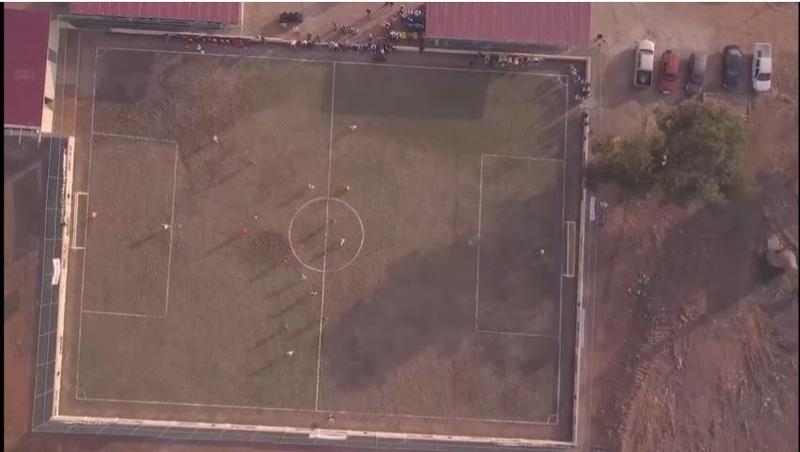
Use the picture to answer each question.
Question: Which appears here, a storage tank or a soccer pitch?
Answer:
soccer pitch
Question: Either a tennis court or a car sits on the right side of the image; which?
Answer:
car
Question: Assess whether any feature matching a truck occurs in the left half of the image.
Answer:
No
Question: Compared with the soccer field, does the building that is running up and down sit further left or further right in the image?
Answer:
left of it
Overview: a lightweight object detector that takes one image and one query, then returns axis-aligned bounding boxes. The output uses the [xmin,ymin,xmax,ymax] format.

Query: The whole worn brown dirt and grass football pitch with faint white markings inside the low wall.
[57,33,585,440]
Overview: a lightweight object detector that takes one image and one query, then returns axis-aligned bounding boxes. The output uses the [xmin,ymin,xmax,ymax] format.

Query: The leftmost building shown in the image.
[0,7,62,145]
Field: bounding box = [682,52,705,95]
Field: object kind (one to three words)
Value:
car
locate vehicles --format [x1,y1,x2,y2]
[630,41,655,91]
[719,44,744,91]
[682,52,705,95]
[748,42,773,94]
[655,52,678,94]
